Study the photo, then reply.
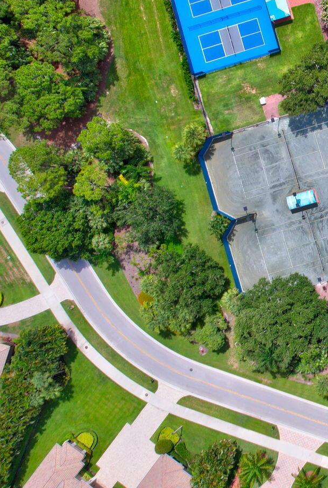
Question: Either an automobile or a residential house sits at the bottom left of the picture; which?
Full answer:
There is a residential house at the bottom left of the picture.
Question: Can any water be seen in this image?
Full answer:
No, the picture contains no water.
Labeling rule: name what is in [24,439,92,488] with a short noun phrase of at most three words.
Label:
house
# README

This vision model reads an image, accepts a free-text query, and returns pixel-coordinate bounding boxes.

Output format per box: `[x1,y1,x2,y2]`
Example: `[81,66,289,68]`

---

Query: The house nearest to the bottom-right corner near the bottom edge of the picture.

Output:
[137,453,193,488]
